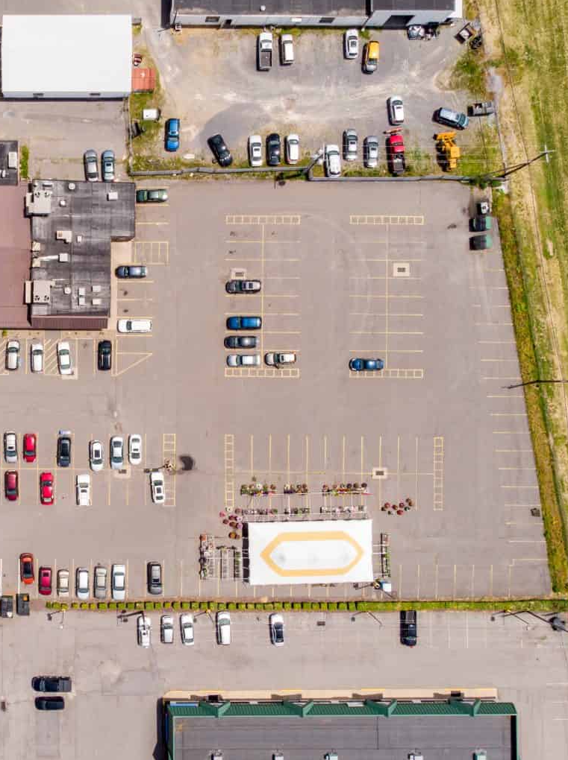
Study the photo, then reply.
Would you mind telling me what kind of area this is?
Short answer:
parking lot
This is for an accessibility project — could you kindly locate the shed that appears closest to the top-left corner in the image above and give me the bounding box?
[2,15,132,98]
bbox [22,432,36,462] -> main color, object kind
red vehicle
